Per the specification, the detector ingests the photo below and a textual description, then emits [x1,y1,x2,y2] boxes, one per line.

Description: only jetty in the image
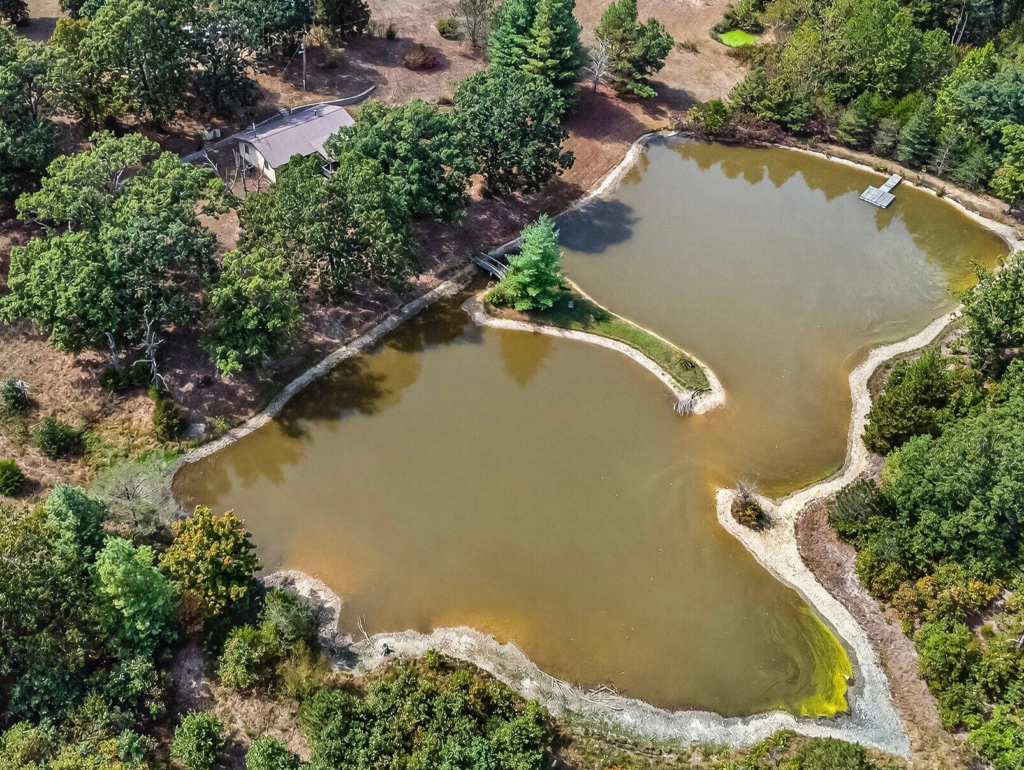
[858,172,903,210]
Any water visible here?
Yes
